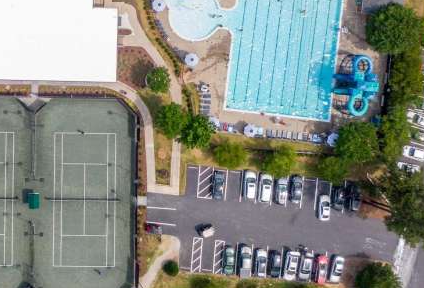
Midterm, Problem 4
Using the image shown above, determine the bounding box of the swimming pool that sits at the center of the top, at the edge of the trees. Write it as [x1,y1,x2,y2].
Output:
[164,0,346,124]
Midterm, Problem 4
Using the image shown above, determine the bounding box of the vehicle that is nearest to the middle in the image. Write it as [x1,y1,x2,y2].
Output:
[211,170,226,198]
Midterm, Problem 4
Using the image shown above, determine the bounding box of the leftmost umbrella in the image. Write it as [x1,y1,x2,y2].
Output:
[151,0,166,12]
